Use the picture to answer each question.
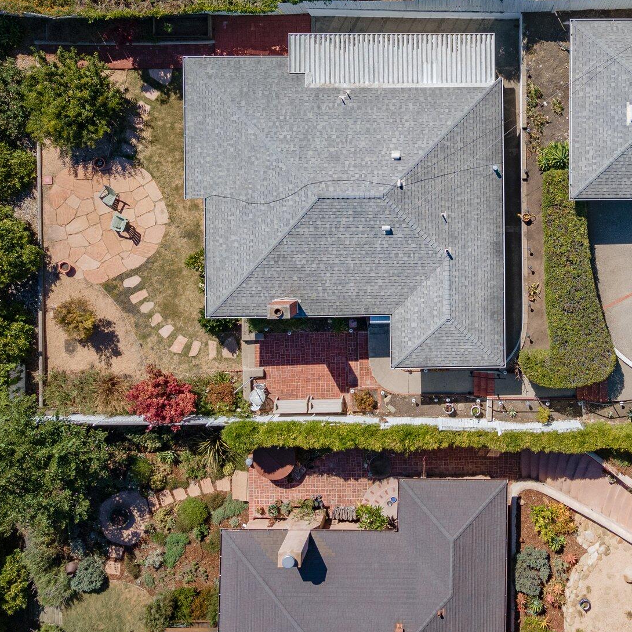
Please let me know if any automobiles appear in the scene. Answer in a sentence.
No, this view has no automobile in it.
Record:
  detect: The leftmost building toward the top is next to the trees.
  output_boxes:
[180,32,508,371]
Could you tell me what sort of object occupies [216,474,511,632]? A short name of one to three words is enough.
house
